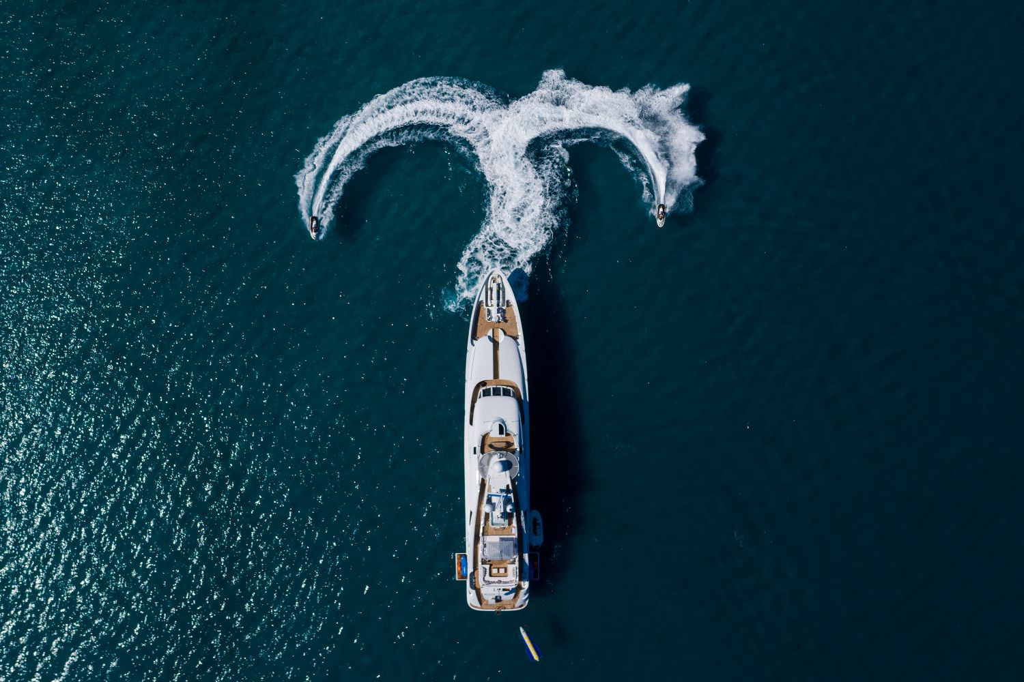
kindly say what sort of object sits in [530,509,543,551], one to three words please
boat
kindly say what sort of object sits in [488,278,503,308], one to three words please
boat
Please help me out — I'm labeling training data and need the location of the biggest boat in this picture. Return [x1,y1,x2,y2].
[455,269,539,615]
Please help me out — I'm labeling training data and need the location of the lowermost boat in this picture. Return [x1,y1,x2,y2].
[521,628,543,663]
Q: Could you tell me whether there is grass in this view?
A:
No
